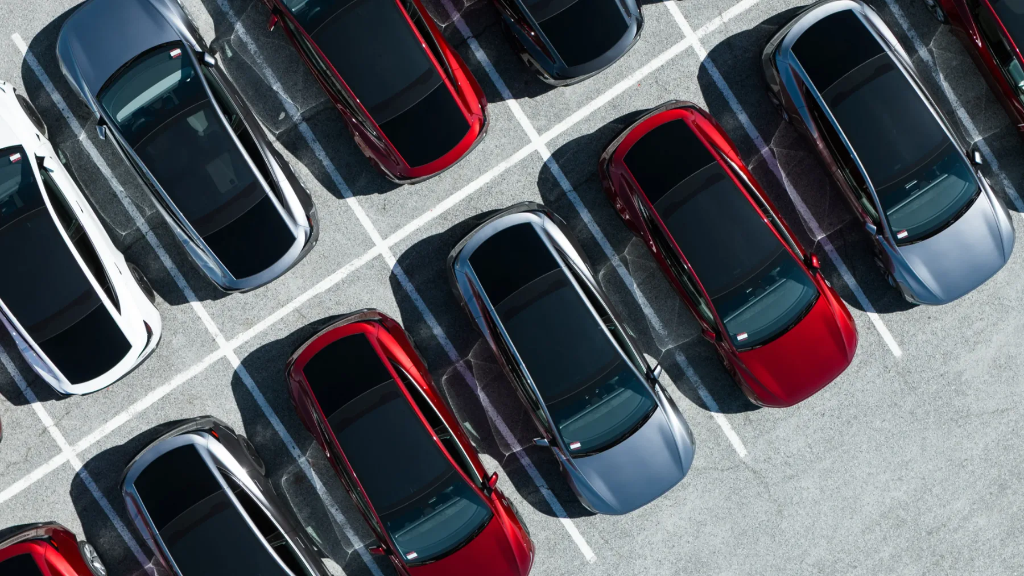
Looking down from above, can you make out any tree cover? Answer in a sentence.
No, there's no tree cover in this view.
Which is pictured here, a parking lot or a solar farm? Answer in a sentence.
The area seen from above is a parking lot.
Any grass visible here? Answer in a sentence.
No, there's no grass in this view.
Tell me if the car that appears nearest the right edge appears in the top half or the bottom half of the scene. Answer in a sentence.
You can find the car that appears nearest the right edge in the top half.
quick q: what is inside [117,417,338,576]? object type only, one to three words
car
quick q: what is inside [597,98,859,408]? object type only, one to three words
car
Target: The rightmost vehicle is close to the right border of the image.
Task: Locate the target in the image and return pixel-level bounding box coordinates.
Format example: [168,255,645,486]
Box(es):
[925,0,1024,154]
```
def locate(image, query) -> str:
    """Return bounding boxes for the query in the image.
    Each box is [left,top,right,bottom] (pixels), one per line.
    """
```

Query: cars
[281,308,533,576]
[486,0,648,89]
[0,84,162,400]
[0,522,110,576]
[259,0,492,188]
[597,98,859,408]
[761,0,1017,306]
[925,0,1024,154]
[54,0,322,296]
[117,417,338,576]
[445,200,695,516]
